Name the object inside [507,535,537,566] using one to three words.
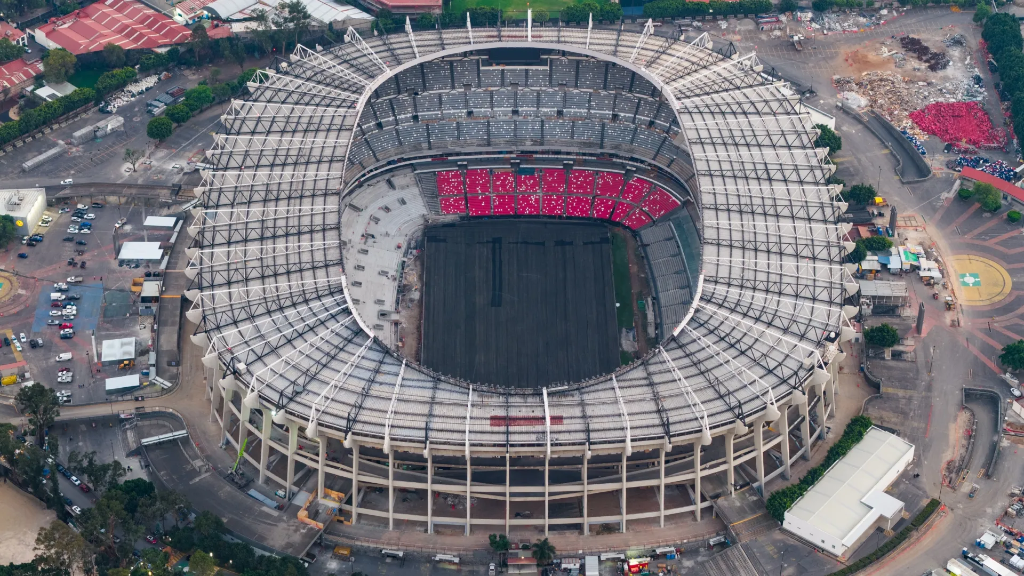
building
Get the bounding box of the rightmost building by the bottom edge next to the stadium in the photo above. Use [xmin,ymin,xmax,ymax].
[784,428,914,556]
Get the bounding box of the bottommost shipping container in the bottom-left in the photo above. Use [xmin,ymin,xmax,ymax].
[249,486,282,513]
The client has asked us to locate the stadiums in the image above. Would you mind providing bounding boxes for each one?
[181,12,861,534]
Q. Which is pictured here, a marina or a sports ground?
sports ground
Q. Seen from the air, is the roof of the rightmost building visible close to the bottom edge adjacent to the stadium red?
No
